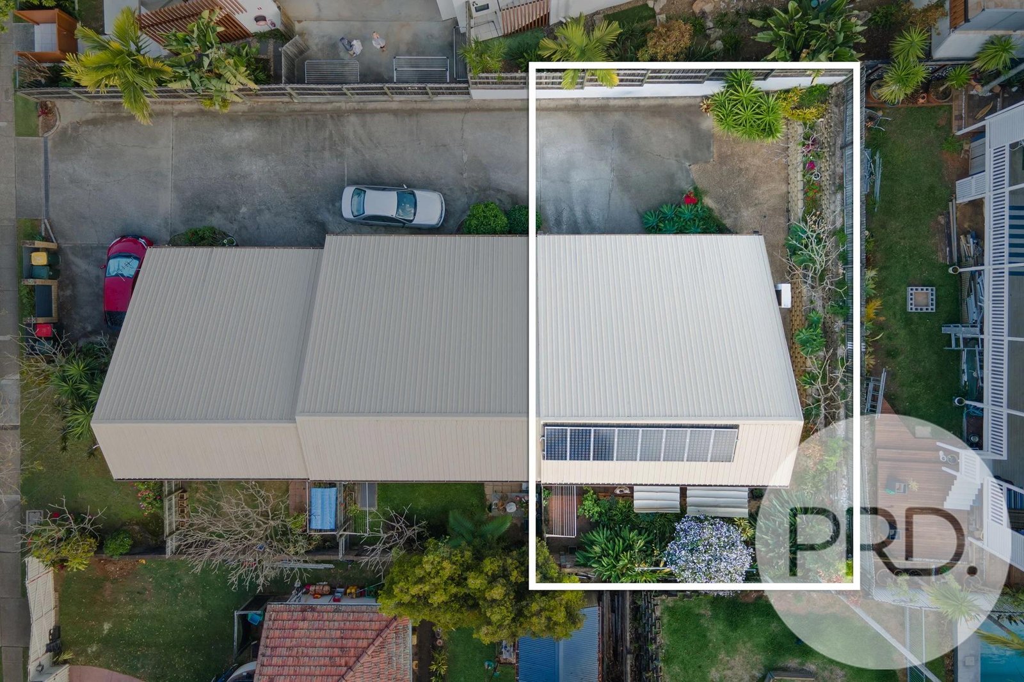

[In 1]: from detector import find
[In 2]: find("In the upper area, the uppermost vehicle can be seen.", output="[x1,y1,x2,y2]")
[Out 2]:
[344,185,444,228]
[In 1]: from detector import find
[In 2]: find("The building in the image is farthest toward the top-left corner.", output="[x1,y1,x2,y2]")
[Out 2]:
[12,5,77,63]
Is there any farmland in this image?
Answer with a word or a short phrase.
No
